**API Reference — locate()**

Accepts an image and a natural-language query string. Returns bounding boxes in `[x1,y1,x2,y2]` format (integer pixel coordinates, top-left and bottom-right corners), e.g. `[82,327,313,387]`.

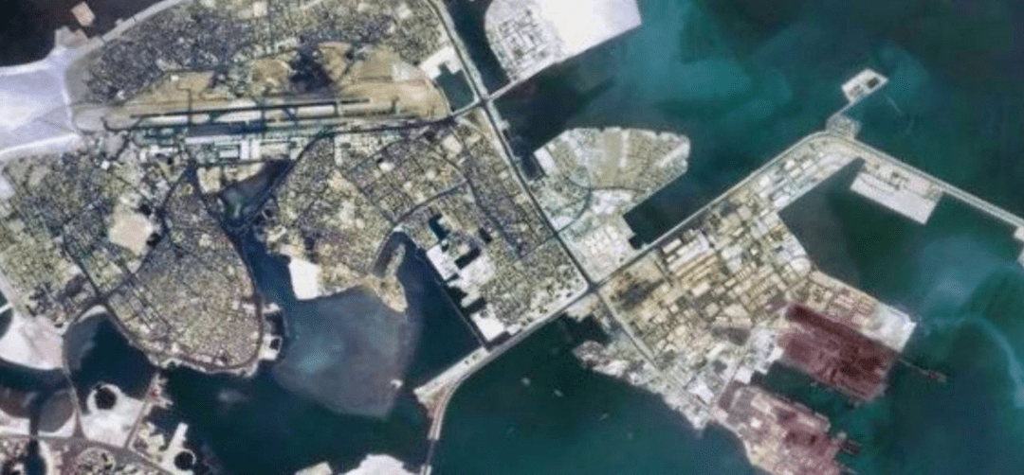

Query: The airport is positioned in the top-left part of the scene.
[68,40,449,163]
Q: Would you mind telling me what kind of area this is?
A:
port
